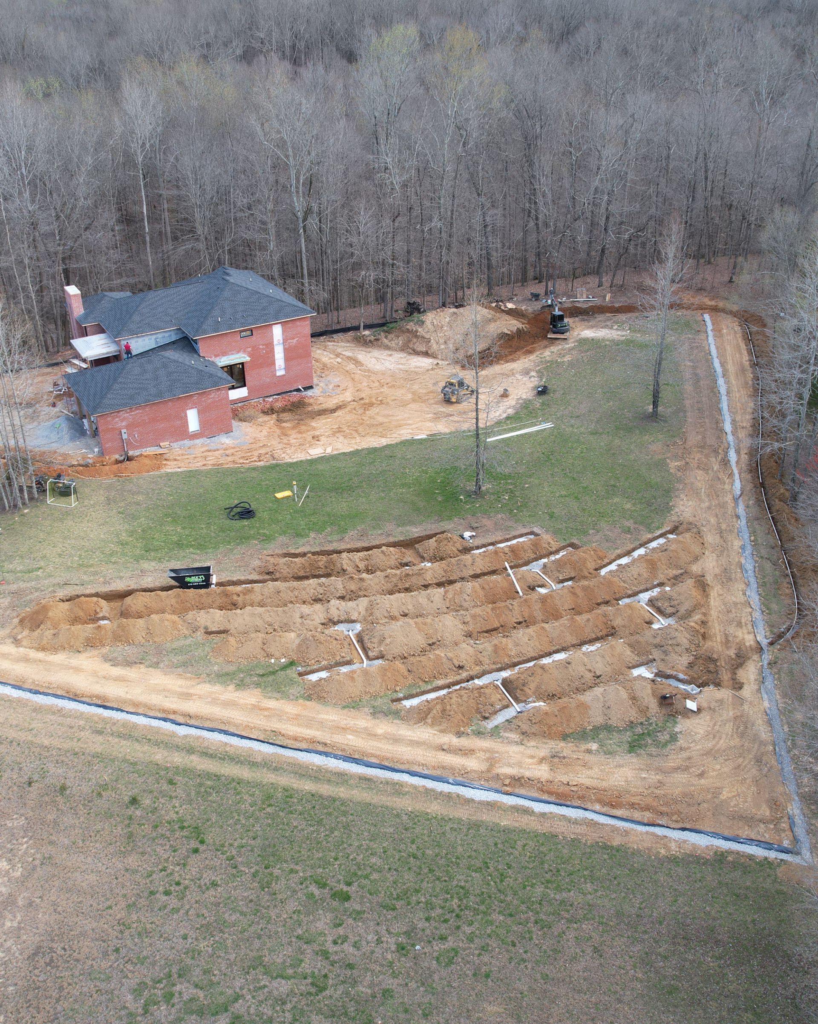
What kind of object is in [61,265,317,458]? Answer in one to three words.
house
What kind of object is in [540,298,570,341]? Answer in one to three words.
work vehicle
